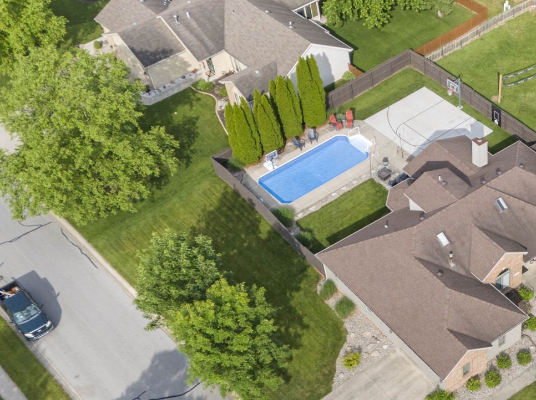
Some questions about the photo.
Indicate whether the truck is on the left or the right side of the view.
left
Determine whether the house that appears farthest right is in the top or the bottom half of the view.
bottom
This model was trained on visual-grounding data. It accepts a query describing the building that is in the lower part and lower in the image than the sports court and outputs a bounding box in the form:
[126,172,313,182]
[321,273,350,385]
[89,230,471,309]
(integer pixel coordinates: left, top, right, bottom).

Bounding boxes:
[314,134,536,394]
